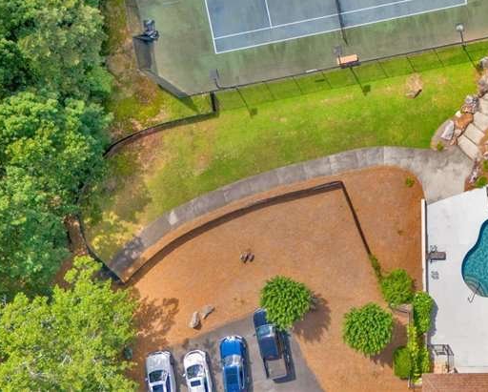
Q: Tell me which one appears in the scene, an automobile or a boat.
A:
automobile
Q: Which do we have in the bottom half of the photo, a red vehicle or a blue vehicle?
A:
blue vehicle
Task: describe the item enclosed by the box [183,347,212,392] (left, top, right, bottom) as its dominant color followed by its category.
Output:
white car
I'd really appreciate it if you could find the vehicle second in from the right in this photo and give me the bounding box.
[219,334,248,392]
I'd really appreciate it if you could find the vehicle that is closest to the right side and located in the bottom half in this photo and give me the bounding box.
[252,308,288,380]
